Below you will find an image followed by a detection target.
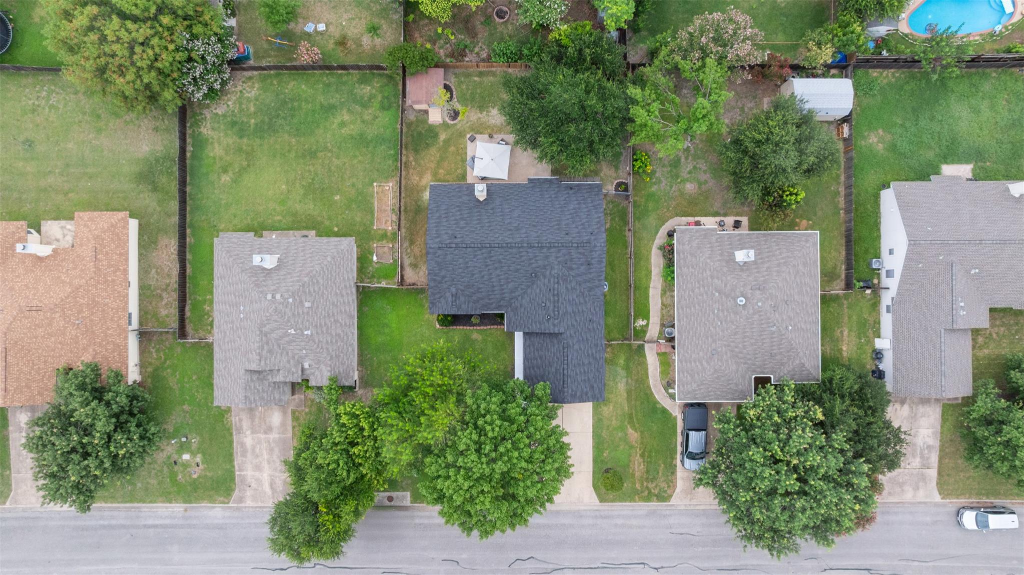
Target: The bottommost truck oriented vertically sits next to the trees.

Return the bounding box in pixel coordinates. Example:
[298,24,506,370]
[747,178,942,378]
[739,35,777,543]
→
[679,402,711,471]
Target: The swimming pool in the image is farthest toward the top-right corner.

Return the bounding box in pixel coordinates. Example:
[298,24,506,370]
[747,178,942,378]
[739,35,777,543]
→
[905,0,1018,38]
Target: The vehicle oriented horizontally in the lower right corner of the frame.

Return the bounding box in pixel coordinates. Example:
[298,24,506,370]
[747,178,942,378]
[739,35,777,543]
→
[956,505,1016,534]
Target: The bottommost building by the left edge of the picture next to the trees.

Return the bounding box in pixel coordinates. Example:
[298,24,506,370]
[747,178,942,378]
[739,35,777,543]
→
[0,211,143,408]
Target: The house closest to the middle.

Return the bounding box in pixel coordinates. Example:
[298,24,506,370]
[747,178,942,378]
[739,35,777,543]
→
[427,177,606,404]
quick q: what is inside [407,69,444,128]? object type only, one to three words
shed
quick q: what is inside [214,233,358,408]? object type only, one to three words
house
